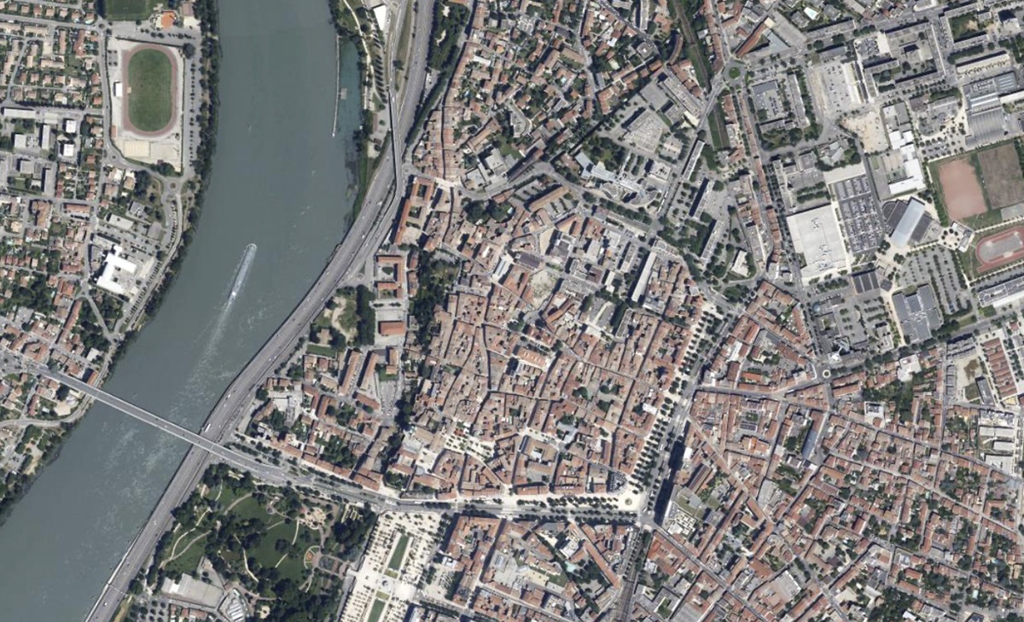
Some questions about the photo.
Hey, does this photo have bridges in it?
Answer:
Yes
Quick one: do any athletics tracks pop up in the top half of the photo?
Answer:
Yes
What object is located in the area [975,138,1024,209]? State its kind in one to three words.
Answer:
sports field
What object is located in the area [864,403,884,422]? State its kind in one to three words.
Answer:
building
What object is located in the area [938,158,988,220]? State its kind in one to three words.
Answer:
sports field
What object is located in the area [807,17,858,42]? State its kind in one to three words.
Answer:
building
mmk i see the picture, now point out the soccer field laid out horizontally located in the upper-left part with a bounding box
[105,0,151,20]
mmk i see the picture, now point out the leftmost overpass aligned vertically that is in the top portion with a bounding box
[352,82,403,271]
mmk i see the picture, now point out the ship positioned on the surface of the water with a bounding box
[229,246,253,300]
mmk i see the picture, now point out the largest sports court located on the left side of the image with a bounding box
[116,138,179,163]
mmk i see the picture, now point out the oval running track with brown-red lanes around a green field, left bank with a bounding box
[111,38,183,143]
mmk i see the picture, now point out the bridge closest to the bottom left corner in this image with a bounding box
[36,363,296,482]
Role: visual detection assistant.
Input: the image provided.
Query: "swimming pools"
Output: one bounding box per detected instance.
[804,7,818,19]
[564,562,576,572]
